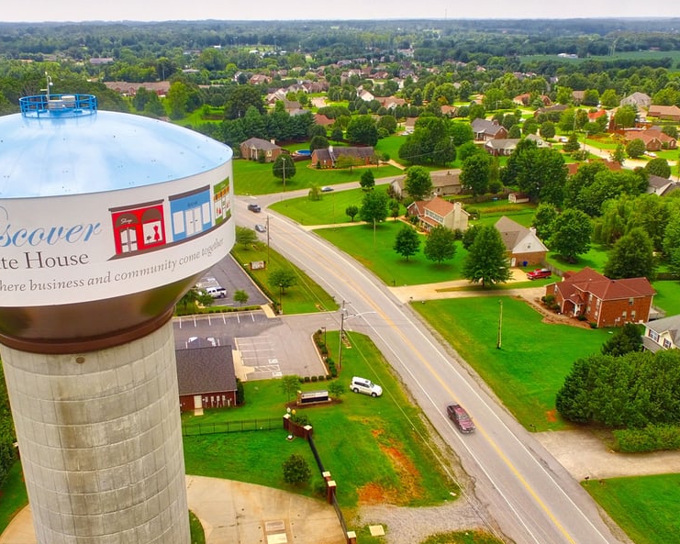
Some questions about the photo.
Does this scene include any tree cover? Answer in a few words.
Yes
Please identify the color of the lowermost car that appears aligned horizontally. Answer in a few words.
white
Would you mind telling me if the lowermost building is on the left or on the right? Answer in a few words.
left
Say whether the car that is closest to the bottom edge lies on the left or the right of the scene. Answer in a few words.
right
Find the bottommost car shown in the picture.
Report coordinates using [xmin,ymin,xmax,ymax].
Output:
[448,404,477,434]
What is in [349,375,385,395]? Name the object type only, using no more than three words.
car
